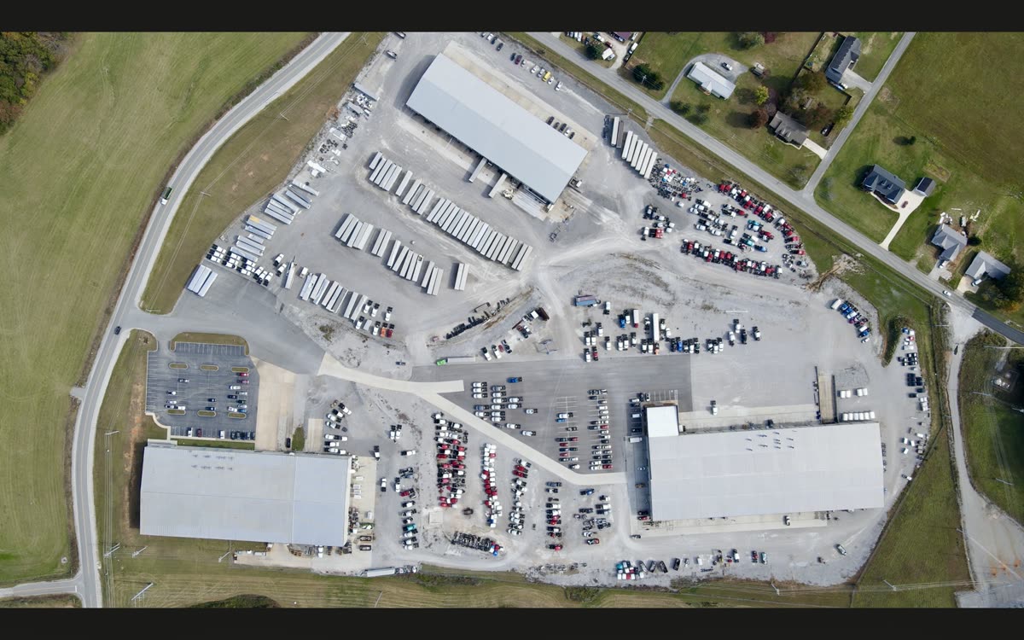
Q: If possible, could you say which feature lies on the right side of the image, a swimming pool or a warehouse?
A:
warehouse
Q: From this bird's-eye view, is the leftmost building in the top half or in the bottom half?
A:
bottom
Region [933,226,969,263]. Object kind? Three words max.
house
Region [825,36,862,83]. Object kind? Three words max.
house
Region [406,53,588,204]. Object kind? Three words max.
warehouse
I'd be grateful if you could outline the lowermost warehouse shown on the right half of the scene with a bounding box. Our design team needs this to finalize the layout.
[644,404,884,521]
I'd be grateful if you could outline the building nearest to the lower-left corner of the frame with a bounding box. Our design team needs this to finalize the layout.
[140,440,353,546]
